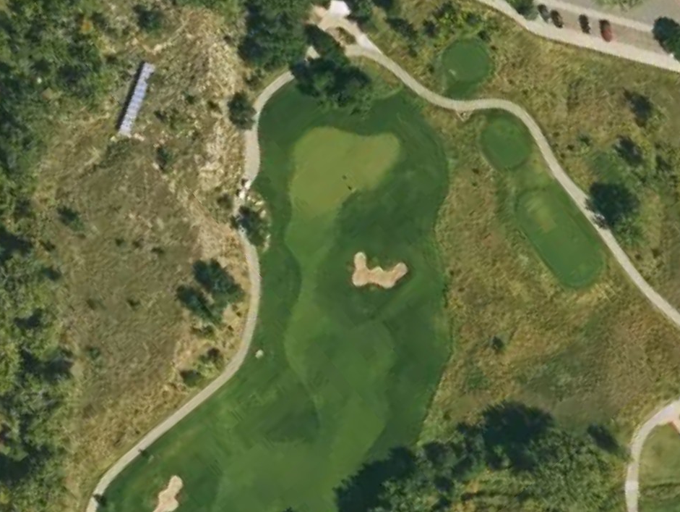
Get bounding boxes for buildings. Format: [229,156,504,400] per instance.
[119,61,157,136]
[329,0,350,17]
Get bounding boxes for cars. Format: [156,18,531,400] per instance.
[539,3,551,23]
[551,9,564,28]
[579,14,591,33]
[601,20,612,41]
